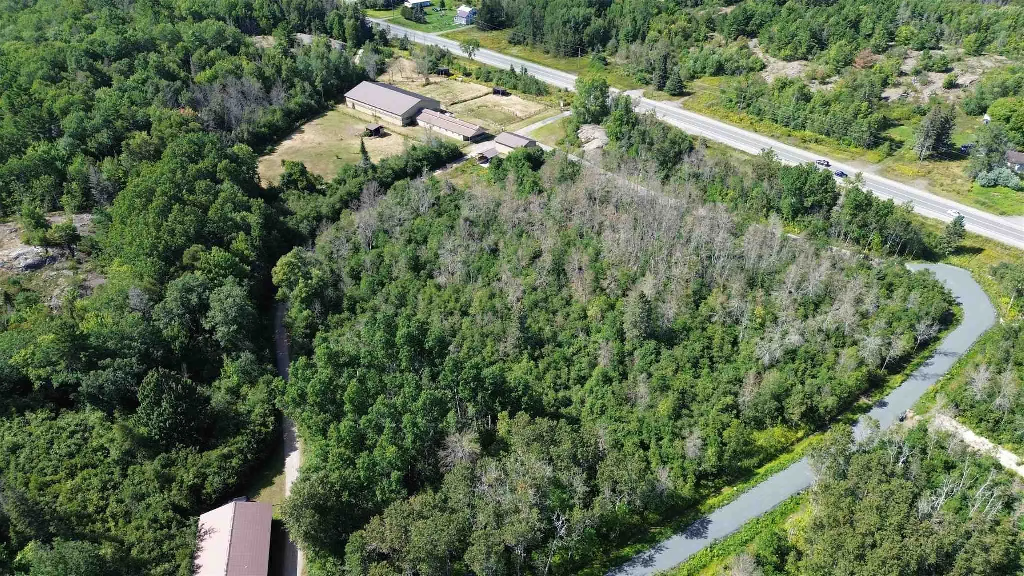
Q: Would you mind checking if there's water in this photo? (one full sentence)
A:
No, no water is visible.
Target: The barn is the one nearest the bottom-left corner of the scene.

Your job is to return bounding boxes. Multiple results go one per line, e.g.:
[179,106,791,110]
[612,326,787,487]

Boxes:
[189,501,274,576]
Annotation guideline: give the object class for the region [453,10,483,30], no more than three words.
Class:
house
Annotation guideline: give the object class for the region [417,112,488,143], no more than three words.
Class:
building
